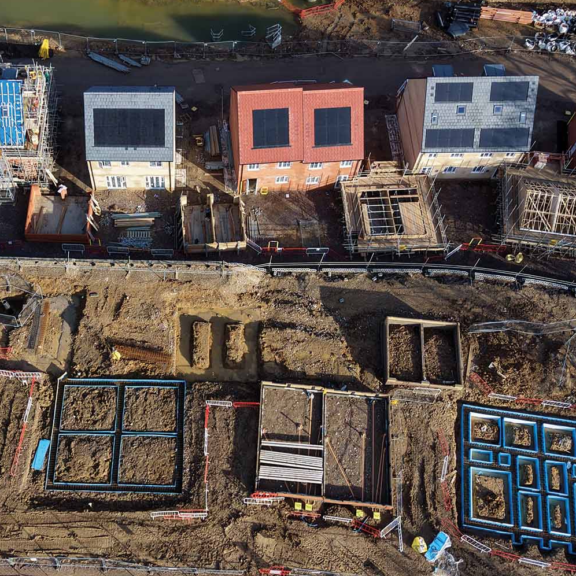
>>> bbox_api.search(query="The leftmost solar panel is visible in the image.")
[95,111,163,146]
